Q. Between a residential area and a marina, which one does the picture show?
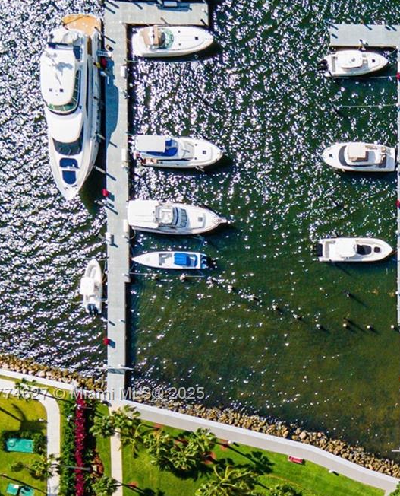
marina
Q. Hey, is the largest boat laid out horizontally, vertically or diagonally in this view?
vertically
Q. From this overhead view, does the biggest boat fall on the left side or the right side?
left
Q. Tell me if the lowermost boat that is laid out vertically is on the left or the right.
left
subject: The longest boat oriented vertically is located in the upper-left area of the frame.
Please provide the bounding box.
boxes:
[40,13,104,199]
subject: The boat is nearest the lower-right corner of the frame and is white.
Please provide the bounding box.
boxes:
[316,238,393,262]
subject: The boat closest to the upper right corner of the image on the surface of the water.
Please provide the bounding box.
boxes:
[319,50,388,75]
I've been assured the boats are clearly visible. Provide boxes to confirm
[132,136,223,167]
[319,50,388,75]
[40,13,104,199]
[316,238,393,262]
[133,251,209,269]
[81,259,106,313]
[132,25,214,55]
[322,142,398,172]
[128,200,229,233]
